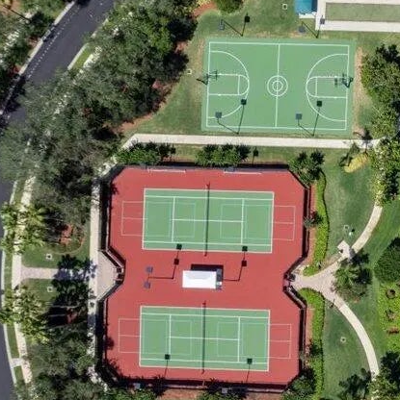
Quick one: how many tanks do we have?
0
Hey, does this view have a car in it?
No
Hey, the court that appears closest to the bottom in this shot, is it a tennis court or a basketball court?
tennis court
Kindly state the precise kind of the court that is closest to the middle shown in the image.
tennis court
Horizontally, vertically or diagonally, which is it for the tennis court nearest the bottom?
horizontally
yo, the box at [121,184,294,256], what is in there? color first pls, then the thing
green tennis court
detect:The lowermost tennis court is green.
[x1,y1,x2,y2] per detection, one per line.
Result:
[119,303,290,374]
